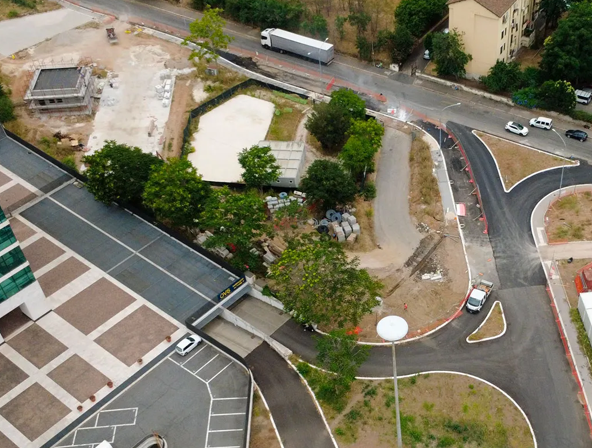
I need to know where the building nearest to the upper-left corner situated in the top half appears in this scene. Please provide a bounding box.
[15,56,102,117]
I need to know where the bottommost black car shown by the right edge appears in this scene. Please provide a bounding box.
[566,129,588,142]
